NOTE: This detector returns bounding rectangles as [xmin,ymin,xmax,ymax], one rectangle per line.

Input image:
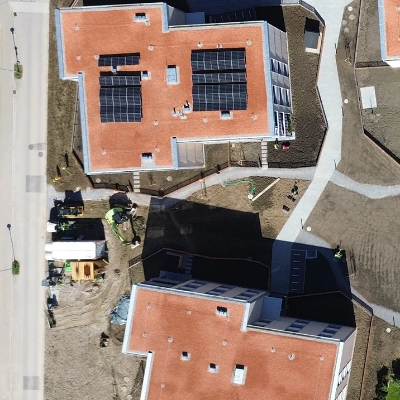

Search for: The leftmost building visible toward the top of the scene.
[55,2,296,175]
